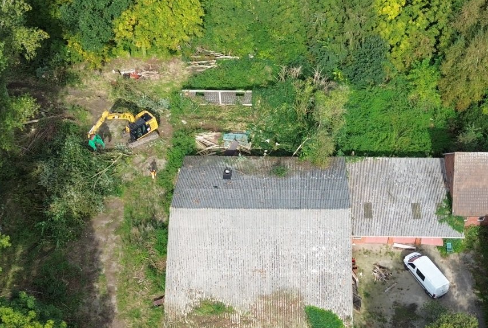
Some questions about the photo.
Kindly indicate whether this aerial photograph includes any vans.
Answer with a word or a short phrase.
Yes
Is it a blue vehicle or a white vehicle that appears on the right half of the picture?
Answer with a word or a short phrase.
white vehicle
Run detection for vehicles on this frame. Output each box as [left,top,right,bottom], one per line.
[92,112,161,161]
[402,254,452,299]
